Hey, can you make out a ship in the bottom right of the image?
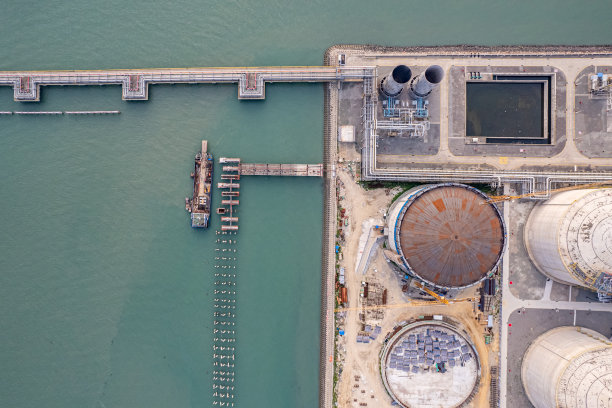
No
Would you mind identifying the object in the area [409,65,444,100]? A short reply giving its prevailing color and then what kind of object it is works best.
gray chimney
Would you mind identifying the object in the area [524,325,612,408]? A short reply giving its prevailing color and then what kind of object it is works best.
white storage tank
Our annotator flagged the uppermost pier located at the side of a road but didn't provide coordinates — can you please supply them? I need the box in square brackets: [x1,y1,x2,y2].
[0,66,338,102]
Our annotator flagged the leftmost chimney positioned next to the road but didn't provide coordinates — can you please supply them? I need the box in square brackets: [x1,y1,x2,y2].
[380,65,412,100]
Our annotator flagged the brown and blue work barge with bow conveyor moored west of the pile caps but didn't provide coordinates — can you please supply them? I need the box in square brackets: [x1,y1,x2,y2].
[188,140,219,228]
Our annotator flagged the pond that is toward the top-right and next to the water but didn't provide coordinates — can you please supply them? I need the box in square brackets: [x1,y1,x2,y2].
[464,73,557,146]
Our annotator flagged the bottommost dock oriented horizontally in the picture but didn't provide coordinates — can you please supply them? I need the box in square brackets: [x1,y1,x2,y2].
[241,164,331,176]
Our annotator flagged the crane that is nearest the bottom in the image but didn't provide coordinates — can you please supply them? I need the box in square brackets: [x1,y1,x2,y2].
[333,279,484,314]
